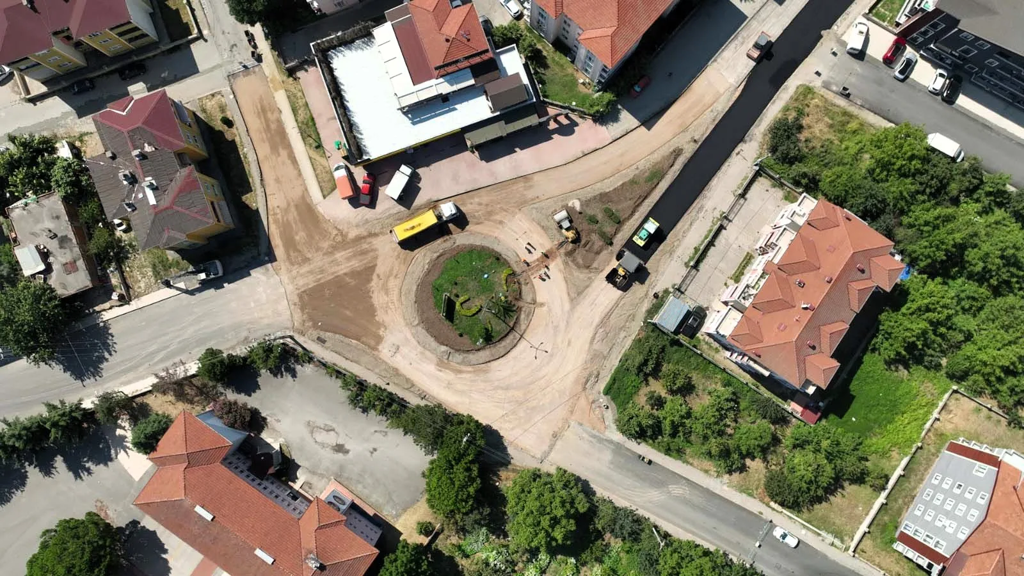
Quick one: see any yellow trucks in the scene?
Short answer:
Yes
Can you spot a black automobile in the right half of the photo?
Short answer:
Yes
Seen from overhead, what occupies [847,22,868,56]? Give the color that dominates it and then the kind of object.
white vehicle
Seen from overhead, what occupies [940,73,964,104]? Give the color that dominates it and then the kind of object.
black car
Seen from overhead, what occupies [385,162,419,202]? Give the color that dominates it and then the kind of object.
white truck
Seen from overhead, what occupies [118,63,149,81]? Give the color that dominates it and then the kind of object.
black car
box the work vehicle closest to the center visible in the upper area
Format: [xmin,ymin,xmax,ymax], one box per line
[552,208,577,252]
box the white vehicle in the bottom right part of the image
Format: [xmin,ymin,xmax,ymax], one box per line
[770,525,800,547]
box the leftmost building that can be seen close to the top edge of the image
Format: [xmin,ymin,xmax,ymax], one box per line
[0,0,158,96]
